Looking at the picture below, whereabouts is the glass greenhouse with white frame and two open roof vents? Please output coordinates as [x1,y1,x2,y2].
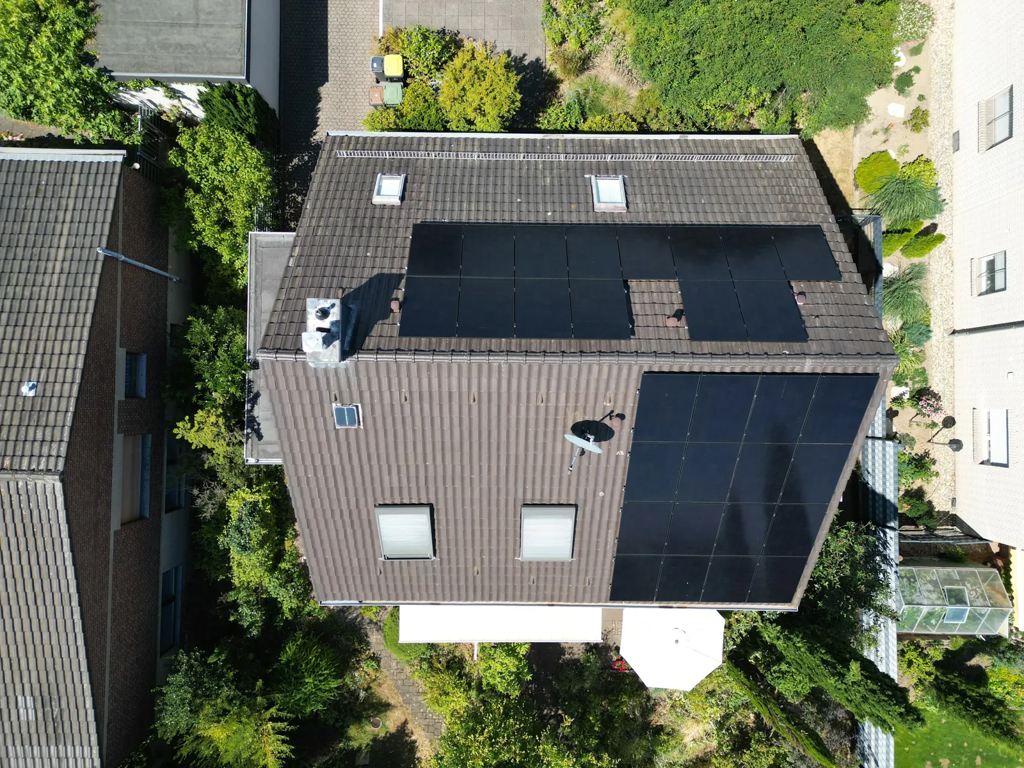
[901,558,1011,635]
